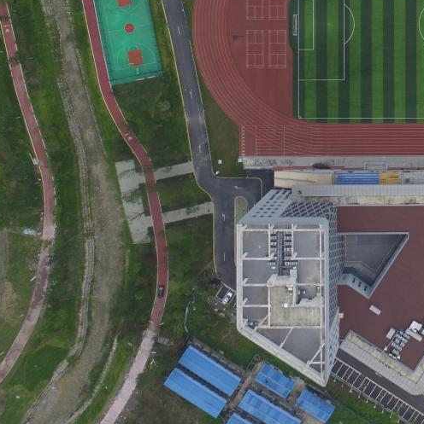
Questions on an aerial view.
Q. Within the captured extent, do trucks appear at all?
No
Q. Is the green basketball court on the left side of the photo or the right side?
left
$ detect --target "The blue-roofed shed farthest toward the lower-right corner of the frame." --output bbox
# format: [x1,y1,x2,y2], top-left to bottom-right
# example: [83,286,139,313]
[296,384,335,423]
